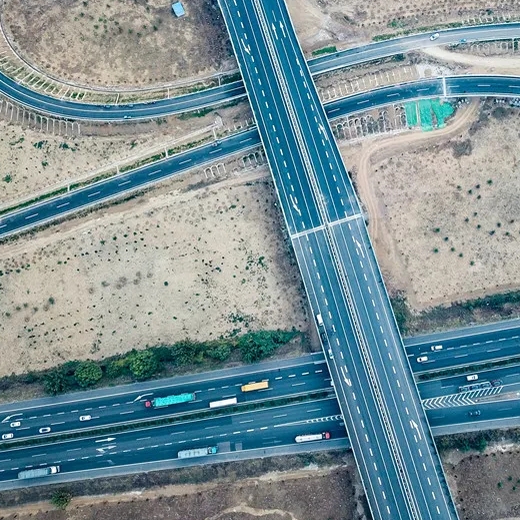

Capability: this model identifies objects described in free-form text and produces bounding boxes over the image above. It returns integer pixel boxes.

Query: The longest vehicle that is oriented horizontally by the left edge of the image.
[17,464,62,479]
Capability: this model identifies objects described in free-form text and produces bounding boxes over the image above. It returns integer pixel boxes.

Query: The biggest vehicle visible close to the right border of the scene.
[458,378,502,395]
